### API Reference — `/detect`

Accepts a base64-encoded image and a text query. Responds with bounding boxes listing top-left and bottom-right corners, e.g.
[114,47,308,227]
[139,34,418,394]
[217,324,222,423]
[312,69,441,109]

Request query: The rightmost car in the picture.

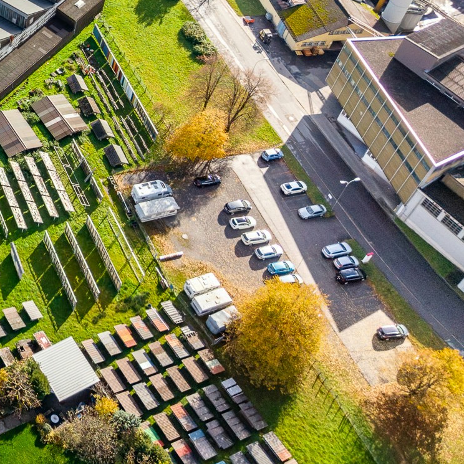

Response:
[372,323,410,344]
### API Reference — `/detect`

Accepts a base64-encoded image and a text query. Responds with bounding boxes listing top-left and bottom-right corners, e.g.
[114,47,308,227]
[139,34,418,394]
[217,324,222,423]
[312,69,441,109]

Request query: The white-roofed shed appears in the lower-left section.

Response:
[27,337,98,411]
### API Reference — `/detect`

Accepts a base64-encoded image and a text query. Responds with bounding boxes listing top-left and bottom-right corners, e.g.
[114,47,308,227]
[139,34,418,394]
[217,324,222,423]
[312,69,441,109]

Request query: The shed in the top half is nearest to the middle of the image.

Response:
[103,144,129,171]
